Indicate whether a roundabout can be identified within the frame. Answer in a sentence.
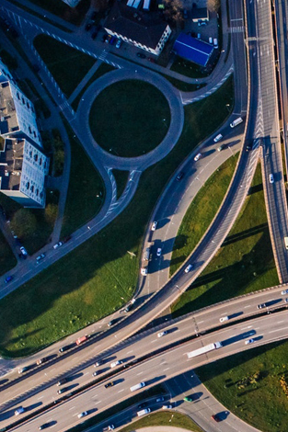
Yes, I can see a roundabout in this picture.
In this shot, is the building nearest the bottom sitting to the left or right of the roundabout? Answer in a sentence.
You can see the building nearest the bottom positioned to the left of the roundabout.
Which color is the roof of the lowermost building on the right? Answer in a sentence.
The roof of the lowermost building on the right is blue.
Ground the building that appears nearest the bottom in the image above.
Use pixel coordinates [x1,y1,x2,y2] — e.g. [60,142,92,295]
[0,130,50,207]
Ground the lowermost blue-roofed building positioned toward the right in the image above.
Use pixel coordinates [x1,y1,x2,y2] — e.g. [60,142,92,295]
[174,33,215,67]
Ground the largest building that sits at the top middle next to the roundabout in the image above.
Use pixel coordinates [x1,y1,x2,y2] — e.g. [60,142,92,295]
[105,3,175,58]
